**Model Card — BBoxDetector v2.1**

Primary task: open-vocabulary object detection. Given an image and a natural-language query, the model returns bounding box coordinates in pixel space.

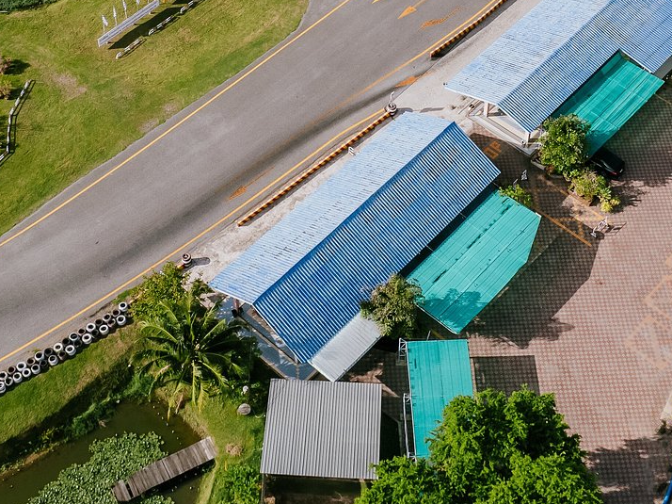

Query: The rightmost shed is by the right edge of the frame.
[445,0,672,163]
